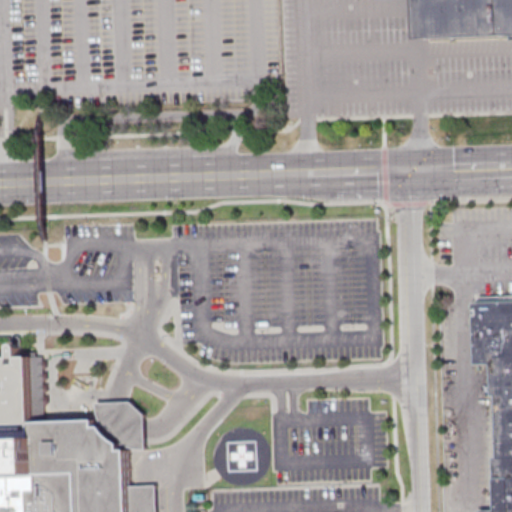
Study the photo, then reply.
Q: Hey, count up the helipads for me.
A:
1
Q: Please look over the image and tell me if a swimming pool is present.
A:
No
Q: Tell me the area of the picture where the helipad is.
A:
bottom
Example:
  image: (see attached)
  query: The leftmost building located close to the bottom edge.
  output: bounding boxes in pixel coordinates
[0,334,161,512]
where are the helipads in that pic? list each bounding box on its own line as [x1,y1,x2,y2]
[214,428,270,484]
